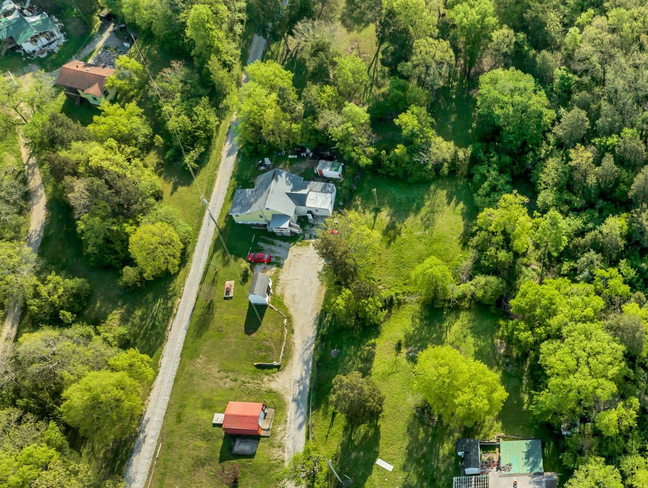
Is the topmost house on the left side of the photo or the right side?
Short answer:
left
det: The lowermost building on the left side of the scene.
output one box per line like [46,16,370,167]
[220,400,276,434]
